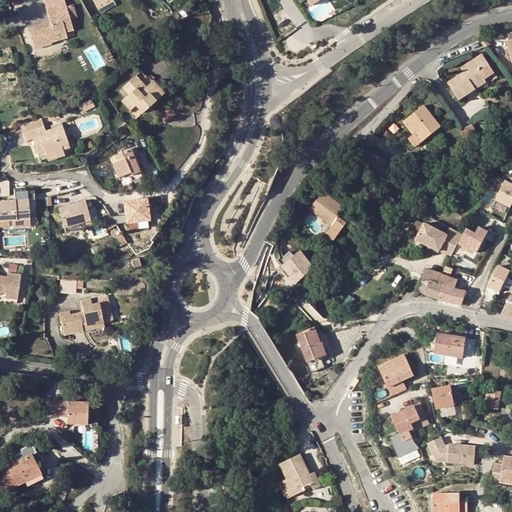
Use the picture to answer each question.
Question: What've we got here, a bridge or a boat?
bridge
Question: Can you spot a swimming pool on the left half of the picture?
Yes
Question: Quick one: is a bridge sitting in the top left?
No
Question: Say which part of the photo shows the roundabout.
center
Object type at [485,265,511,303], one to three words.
house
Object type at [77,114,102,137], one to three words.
swimming pool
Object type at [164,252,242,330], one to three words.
roundabout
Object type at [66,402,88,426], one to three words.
house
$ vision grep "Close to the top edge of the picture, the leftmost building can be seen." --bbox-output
[28,0,78,48]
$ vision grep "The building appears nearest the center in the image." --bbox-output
[280,252,311,286]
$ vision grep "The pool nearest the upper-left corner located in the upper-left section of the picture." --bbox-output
[84,45,106,72]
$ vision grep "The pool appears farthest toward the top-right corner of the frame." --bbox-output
[308,2,336,22]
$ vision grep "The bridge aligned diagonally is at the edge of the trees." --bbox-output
[245,317,316,414]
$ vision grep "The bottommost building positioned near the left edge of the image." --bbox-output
[8,446,43,490]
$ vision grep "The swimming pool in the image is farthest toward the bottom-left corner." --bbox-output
[82,430,98,452]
